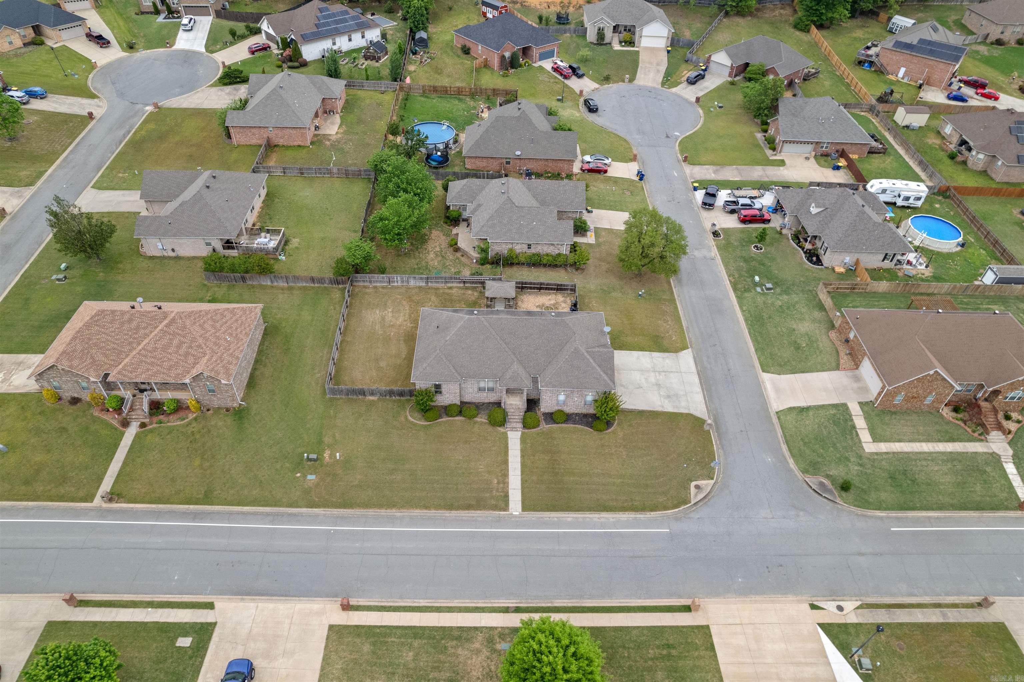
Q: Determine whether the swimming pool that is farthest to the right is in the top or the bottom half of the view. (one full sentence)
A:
The swimming pool that is farthest to the right sits in the top half of the picture.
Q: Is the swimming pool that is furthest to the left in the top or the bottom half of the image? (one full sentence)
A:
The swimming pool that is furthest to the left sits in the top half of the picture.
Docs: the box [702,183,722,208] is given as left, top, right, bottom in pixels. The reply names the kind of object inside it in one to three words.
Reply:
vehicle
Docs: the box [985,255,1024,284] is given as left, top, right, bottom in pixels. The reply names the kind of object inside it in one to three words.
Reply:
shed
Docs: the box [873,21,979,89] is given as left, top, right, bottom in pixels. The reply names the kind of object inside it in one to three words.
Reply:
house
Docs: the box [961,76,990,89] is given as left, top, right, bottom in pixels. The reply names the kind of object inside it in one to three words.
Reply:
vehicle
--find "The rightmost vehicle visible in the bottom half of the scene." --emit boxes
[211,654,252,682]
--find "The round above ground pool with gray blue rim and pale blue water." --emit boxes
[411,119,455,151]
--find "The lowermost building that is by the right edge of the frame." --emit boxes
[836,306,1024,434]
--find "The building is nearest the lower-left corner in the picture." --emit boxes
[26,296,271,421]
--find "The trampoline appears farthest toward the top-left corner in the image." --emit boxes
[423,146,450,168]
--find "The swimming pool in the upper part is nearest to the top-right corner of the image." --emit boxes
[902,215,965,250]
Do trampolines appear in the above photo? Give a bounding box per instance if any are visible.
[555,10,571,23]
[423,146,450,168]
